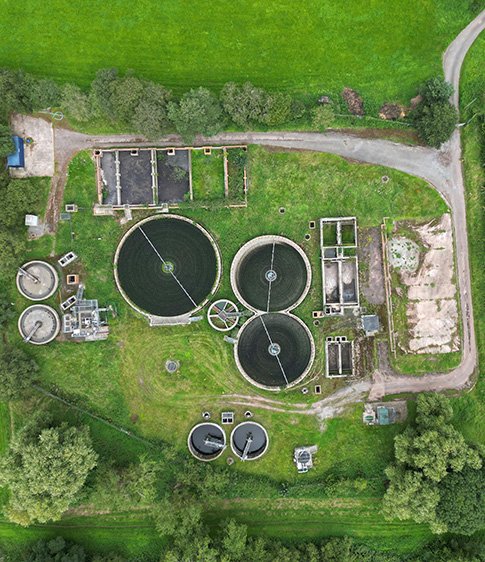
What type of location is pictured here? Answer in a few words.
industrial area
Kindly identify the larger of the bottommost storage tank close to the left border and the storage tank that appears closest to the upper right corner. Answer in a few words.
the storage tank that appears closest to the upper right corner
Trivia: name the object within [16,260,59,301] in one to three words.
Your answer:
storage tank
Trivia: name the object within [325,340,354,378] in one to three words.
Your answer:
storage tank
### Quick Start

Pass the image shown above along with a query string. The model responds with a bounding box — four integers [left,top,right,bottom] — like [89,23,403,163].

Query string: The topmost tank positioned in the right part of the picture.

[319,217,359,314]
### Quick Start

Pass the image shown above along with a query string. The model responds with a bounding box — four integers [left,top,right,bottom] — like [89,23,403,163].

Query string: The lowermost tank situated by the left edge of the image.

[19,304,61,345]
